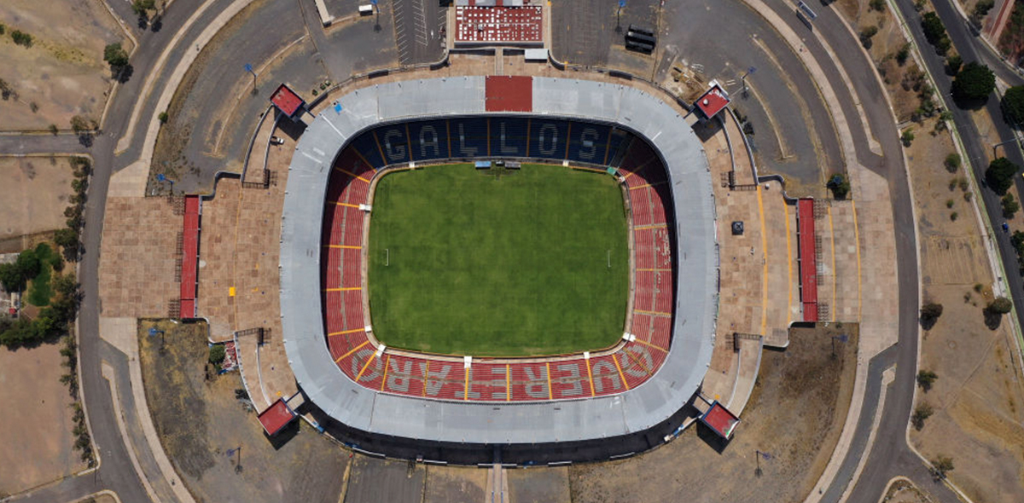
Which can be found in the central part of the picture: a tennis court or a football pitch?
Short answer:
football pitch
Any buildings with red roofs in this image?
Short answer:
Yes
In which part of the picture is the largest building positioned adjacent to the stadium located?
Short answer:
top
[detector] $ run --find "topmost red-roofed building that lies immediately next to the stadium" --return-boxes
[455,5,543,43]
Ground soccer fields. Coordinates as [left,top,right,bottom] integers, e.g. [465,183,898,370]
[362,157,636,363]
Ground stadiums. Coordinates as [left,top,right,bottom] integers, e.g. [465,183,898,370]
[278,74,719,444]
